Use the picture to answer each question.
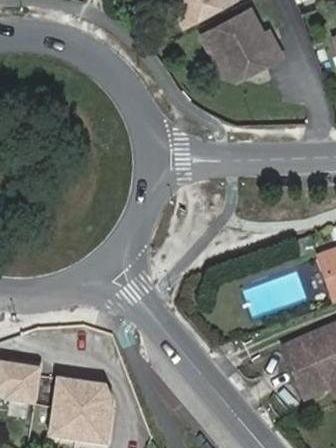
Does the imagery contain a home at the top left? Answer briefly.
No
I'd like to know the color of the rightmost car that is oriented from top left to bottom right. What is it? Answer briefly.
white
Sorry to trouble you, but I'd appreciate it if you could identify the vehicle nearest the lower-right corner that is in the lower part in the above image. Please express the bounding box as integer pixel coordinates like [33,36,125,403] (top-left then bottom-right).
[272,373,292,386]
